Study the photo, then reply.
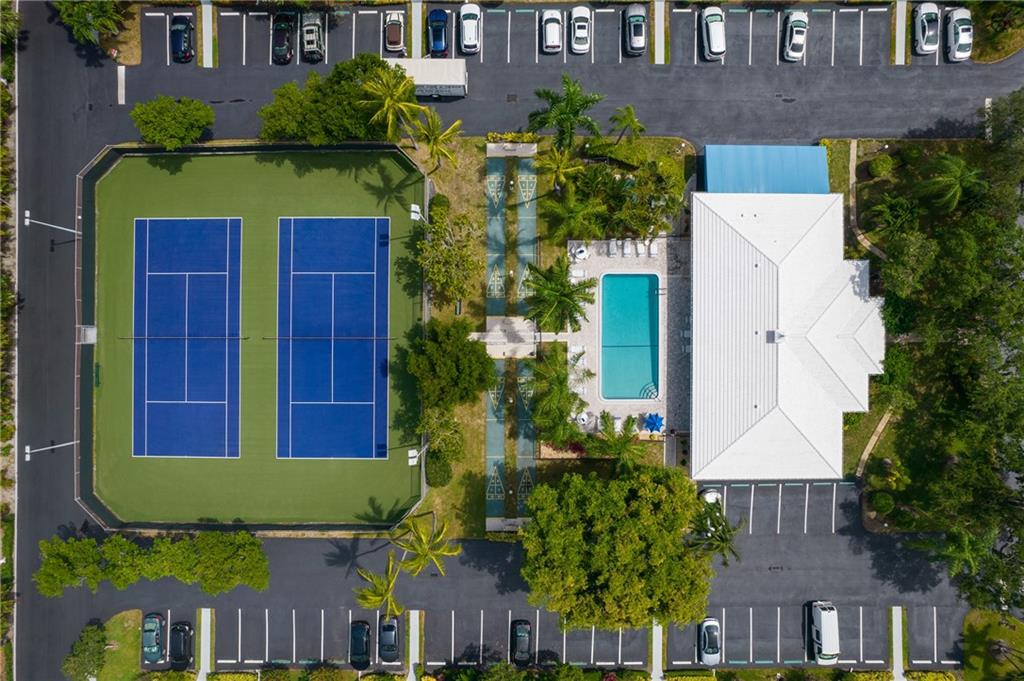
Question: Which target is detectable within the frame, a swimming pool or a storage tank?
swimming pool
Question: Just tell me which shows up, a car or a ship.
car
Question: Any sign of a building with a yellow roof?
No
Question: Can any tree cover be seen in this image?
Yes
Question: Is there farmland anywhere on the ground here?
No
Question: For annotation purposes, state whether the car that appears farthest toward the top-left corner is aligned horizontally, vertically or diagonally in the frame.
vertically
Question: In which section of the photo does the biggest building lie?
right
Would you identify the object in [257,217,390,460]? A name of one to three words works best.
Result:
tennis court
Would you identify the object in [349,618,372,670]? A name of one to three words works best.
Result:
car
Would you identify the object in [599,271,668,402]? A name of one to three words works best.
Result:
swimming pool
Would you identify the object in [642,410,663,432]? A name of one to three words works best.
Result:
umbrella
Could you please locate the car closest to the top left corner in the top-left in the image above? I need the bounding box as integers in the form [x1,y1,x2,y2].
[170,15,196,65]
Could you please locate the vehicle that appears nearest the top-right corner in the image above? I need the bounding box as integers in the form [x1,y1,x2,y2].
[946,11,973,62]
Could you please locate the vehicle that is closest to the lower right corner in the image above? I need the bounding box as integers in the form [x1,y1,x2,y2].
[809,598,840,665]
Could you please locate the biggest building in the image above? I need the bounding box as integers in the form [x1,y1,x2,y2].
[690,192,885,480]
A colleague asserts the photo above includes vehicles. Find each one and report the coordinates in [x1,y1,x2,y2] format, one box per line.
[511,618,532,665]
[913,5,940,55]
[427,10,449,58]
[541,9,563,55]
[170,15,196,65]
[384,13,405,54]
[168,619,194,670]
[272,14,296,65]
[570,7,592,56]
[700,8,725,62]
[458,4,481,55]
[809,598,840,665]
[946,11,973,62]
[377,613,400,662]
[625,5,648,56]
[141,612,167,662]
[698,615,722,666]
[300,15,324,63]
[349,618,372,670]
[783,12,809,63]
